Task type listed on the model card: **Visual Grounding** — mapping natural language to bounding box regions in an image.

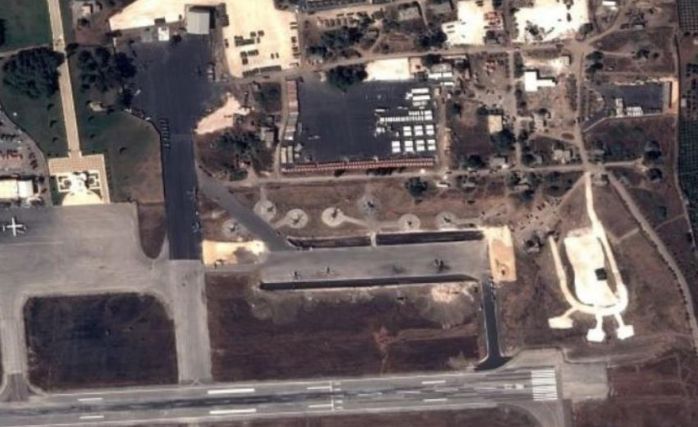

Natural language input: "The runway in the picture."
[0,367,564,427]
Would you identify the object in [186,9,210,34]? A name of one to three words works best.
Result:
hangar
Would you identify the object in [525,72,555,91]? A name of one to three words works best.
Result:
house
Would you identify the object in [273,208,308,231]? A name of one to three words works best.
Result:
helipad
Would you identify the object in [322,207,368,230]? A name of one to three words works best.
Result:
helipad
